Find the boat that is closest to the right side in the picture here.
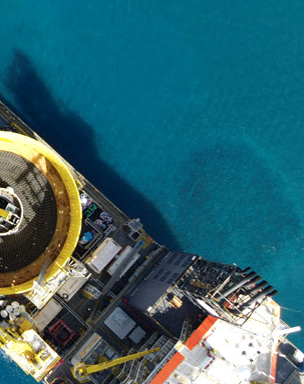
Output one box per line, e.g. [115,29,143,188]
[275,337,304,366]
